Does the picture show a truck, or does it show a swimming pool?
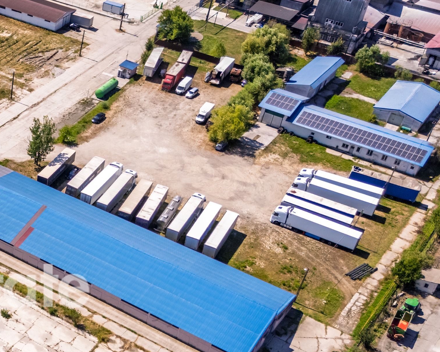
truck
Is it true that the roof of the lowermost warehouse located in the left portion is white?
No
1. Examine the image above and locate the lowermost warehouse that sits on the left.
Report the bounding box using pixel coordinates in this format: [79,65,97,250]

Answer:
[0,167,300,352]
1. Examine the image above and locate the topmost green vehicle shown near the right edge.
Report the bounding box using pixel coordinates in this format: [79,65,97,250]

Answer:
[402,296,421,317]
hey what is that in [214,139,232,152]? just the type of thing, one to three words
vehicle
